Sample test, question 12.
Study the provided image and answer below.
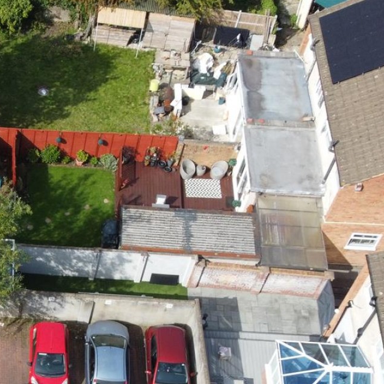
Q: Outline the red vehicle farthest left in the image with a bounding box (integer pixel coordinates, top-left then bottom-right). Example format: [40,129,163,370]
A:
[24,316,74,384]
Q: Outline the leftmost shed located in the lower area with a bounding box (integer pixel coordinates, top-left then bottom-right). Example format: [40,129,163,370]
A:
[117,204,259,266]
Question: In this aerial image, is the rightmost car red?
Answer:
Yes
